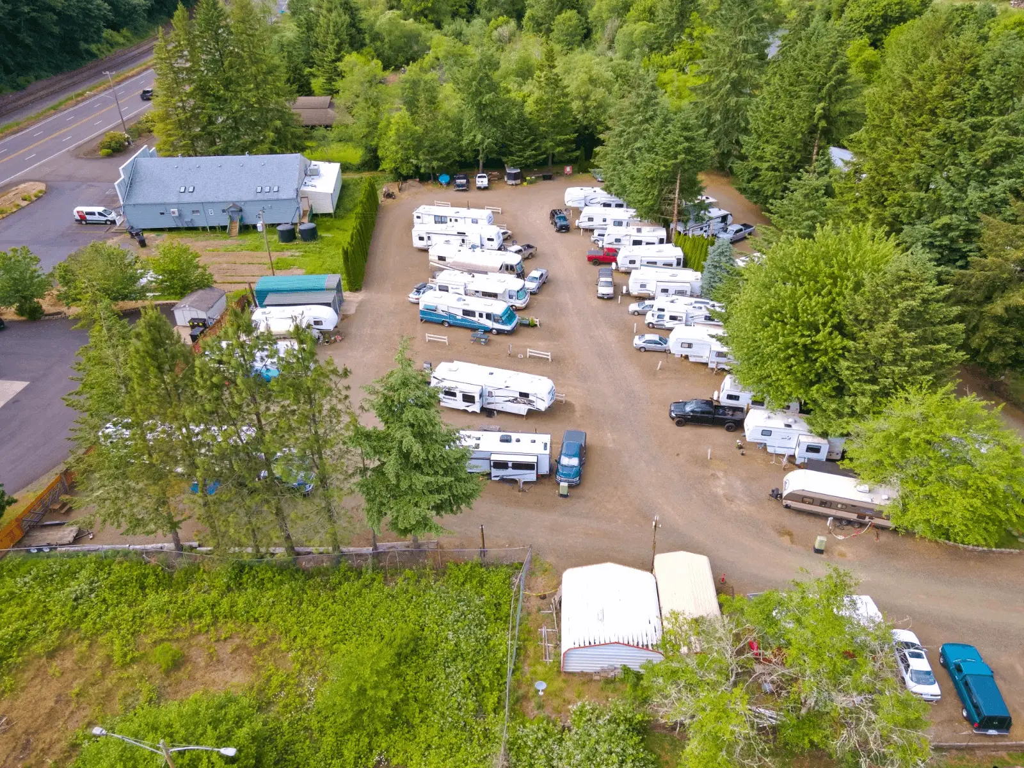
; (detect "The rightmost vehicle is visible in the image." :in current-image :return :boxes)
[940,645,1018,737]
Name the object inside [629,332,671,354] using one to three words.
car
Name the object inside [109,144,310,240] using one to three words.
building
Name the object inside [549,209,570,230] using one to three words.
truck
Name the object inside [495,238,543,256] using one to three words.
vehicle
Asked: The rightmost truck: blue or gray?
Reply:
blue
